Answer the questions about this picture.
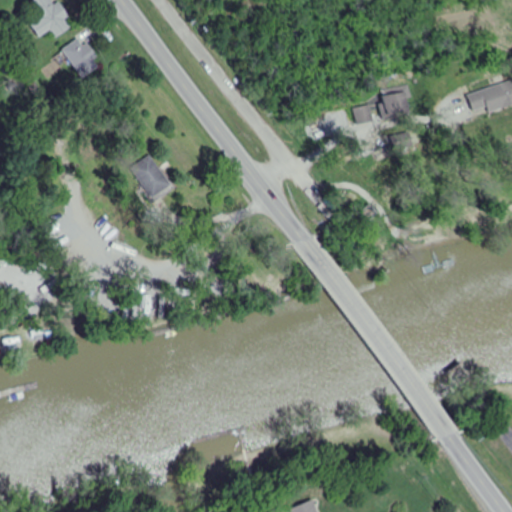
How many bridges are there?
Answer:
one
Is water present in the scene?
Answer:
Yes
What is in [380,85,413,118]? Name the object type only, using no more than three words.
house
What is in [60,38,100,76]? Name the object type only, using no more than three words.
house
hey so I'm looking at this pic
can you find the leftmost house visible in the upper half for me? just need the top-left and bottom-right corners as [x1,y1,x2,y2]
[29,0,73,40]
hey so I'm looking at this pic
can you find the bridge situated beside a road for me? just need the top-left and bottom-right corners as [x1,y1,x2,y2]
[288,229,454,444]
